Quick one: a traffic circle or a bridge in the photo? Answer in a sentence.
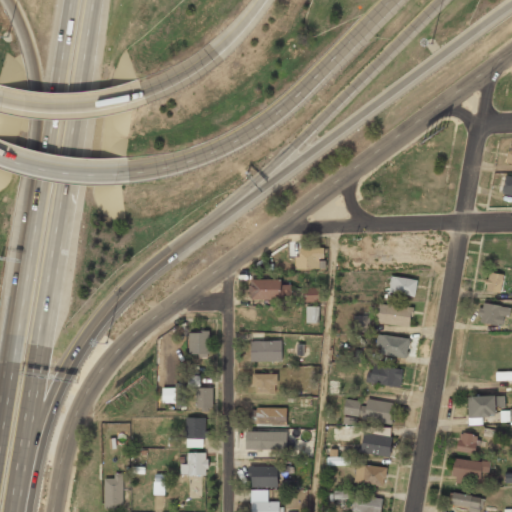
There is a bridge in the scene.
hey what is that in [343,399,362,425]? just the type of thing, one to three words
shed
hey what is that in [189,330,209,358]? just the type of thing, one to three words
house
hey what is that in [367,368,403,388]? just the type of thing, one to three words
house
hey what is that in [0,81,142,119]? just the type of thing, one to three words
bridge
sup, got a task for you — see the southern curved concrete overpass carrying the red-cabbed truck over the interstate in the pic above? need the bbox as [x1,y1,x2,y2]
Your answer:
[0,138,129,185]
